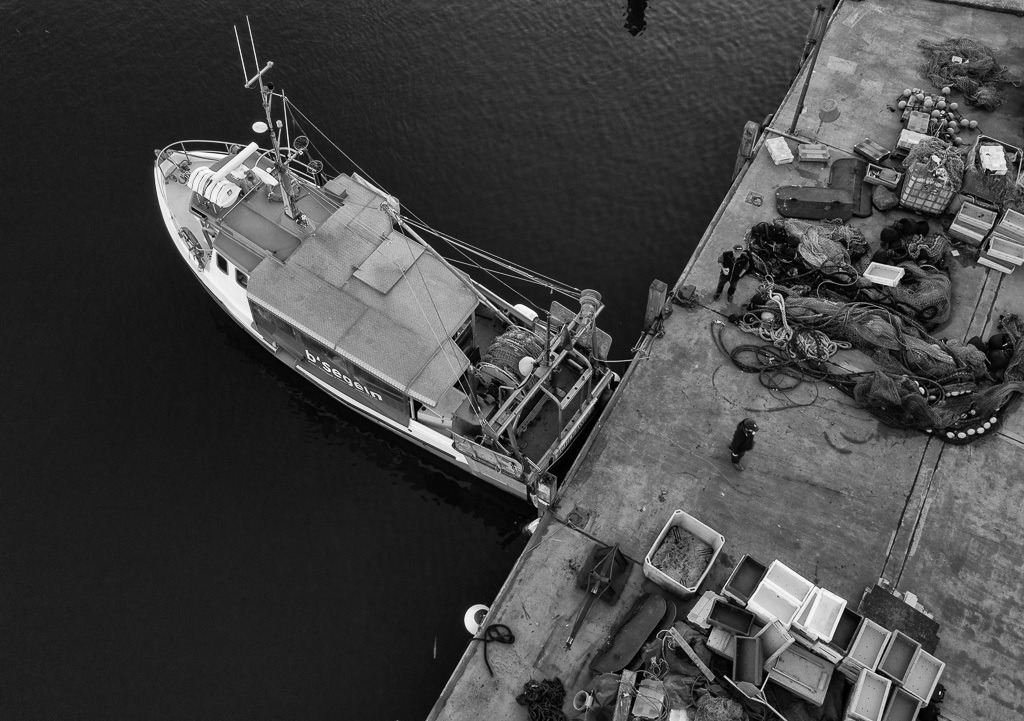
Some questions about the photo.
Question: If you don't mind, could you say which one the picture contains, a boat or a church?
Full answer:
Of the two, only a boat appears.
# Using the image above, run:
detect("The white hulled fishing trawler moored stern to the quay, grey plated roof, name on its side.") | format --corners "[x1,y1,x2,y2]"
[147,17,628,499]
